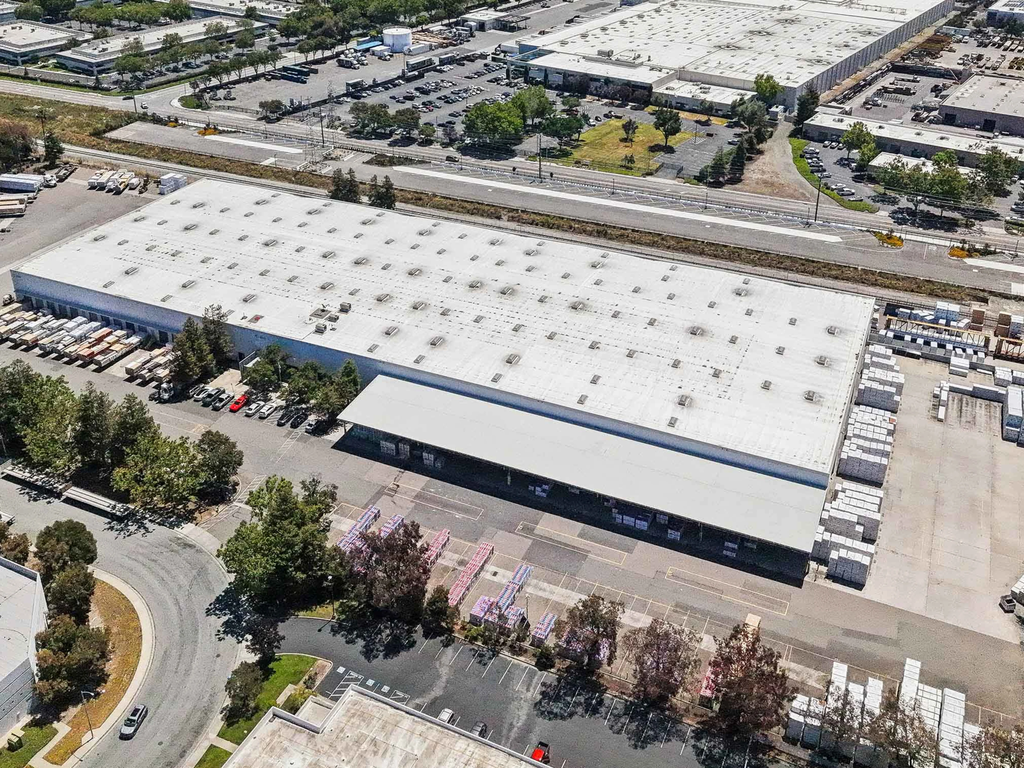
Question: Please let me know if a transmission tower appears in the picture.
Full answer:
Yes, there's a transmission tower here.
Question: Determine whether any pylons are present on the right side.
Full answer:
No, I see no pylon on the right side.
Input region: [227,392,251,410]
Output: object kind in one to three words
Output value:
car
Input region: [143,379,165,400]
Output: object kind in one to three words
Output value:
truck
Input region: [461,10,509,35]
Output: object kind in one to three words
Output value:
building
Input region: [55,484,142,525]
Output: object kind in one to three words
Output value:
trailer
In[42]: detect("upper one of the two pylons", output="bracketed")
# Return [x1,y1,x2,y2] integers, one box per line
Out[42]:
[318,78,343,125]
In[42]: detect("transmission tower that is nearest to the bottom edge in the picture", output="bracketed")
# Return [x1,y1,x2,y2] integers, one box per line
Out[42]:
[296,120,328,172]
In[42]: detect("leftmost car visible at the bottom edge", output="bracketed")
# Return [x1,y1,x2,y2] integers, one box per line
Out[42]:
[114,699,152,740]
